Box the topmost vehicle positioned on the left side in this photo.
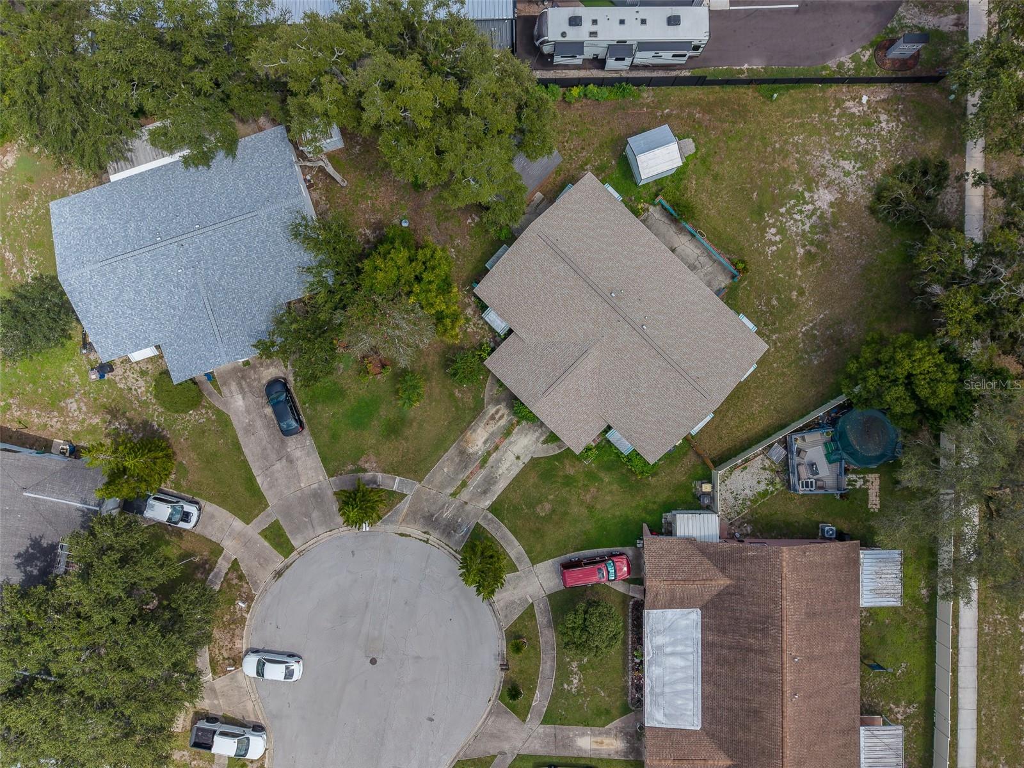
[265,376,306,438]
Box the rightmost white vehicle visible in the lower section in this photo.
[243,648,306,682]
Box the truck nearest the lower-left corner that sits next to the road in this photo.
[189,717,270,761]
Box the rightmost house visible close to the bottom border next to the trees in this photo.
[642,532,860,768]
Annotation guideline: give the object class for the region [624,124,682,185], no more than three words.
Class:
shed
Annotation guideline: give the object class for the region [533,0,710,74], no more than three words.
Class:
vehicle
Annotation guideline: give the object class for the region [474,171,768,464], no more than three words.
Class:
house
